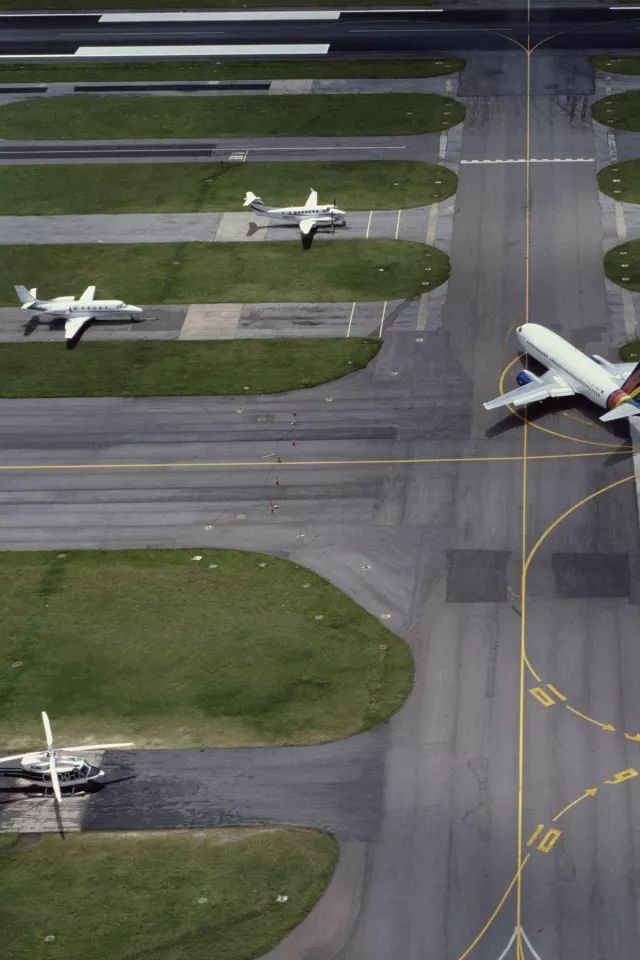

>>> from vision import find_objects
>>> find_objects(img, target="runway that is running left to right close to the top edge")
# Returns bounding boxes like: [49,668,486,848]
[0,5,640,62]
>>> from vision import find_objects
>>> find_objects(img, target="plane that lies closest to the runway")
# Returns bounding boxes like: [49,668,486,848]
[242,188,344,233]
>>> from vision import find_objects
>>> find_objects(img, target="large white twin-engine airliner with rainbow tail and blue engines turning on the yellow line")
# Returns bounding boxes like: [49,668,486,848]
[480,322,640,419]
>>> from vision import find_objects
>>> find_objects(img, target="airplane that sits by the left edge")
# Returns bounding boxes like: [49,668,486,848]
[9,286,141,338]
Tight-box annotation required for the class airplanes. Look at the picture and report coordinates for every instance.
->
[242,188,344,233]
[480,322,640,419]
[9,286,141,338]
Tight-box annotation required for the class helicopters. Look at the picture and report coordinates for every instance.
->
[0,712,135,800]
